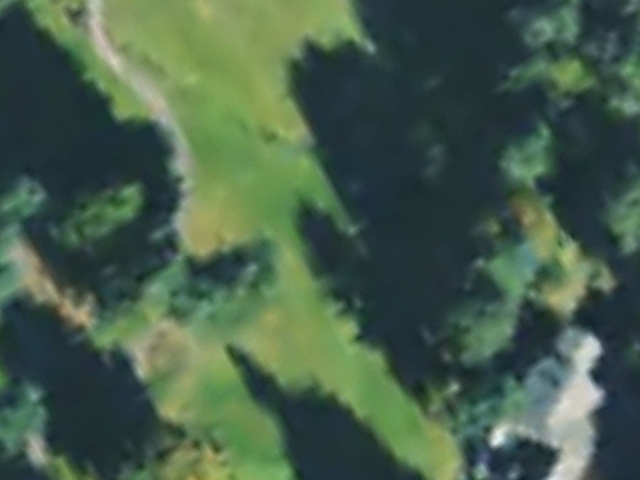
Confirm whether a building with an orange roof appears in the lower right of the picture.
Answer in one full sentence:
No, in the lower right of the picture there is no building with an orange roof.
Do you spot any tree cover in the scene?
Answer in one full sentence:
Yes, there's tree cover in this view.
